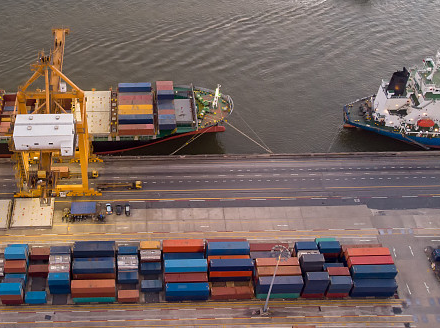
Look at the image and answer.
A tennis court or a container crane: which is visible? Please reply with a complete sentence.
This aerial view contains a container crane.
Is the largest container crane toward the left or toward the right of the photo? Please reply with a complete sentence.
It is on the left.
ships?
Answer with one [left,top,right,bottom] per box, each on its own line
[0,82,234,157]
[335,44,440,149]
